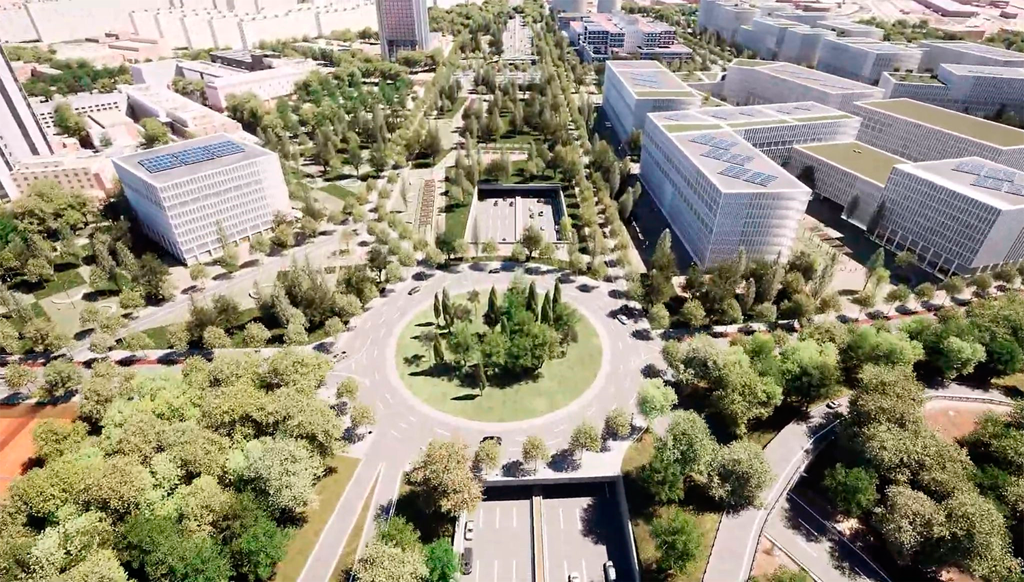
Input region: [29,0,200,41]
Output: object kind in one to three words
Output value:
building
